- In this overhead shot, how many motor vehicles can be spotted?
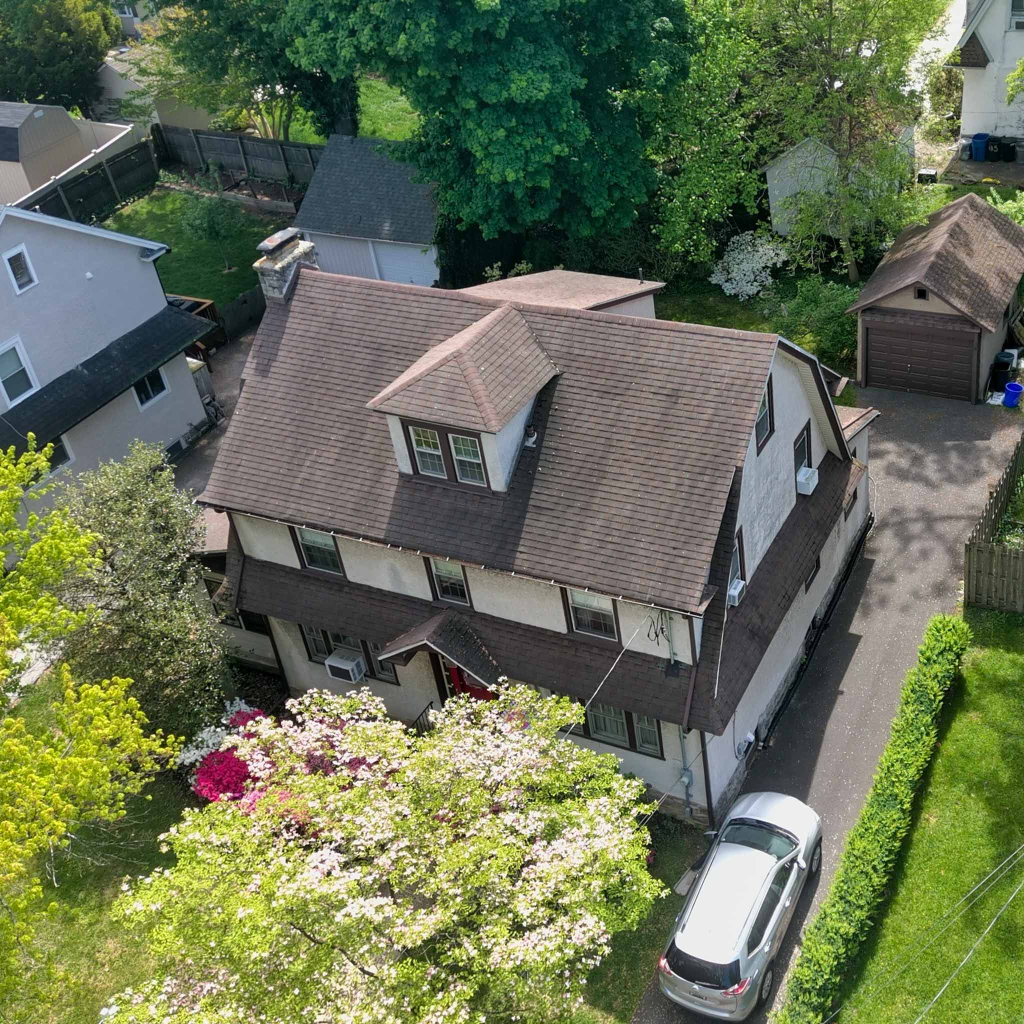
1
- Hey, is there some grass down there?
Yes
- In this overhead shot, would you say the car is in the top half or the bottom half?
bottom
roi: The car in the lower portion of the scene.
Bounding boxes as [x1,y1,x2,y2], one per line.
[651,786,820,1021]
